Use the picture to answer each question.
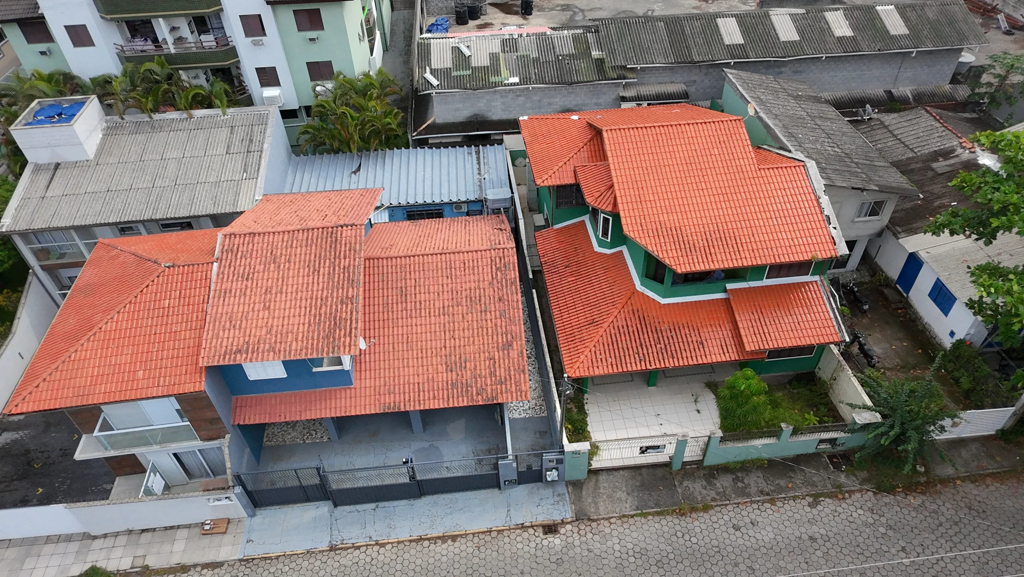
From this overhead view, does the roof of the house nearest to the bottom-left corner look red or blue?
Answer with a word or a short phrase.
red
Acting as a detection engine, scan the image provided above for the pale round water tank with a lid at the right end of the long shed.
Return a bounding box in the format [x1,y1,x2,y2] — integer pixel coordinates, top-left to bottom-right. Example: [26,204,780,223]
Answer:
[949,60,980,83]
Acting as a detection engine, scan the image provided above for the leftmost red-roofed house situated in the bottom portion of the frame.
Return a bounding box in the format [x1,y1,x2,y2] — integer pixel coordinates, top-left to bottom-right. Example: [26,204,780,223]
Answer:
[0,230,229,486]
